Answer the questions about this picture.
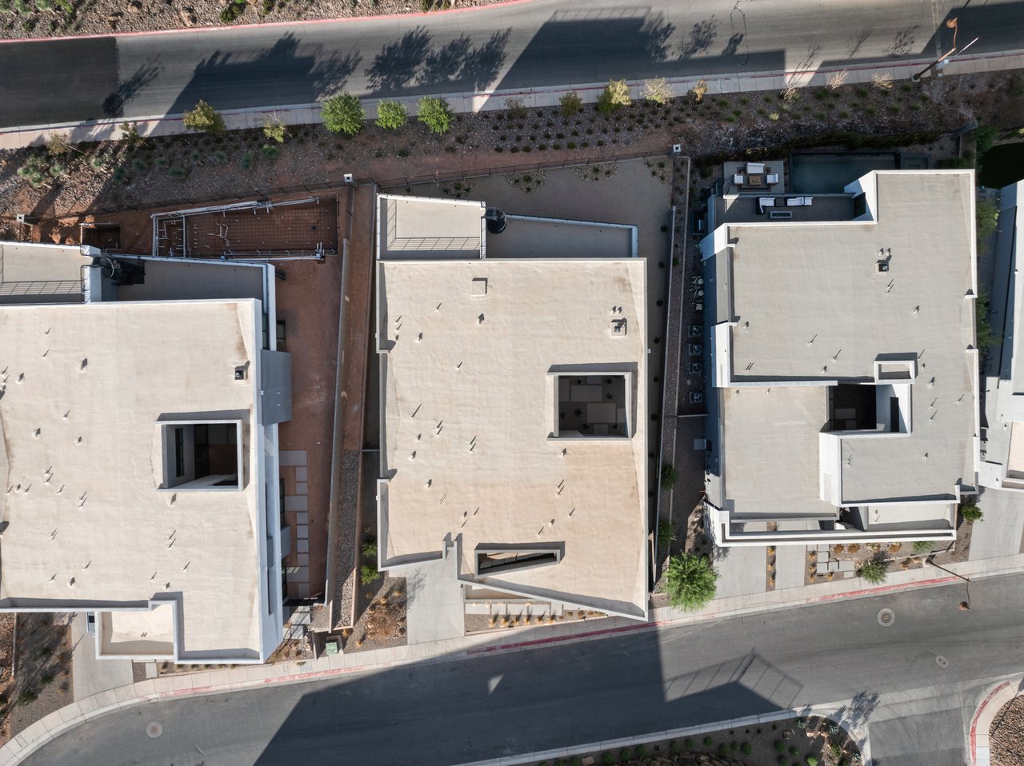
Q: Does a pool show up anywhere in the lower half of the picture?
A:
No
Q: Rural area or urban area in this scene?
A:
urban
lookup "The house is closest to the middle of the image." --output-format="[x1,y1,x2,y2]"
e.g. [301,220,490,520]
[375,193,650,646]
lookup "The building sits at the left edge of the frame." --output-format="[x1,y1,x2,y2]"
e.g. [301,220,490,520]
[0,241,325,665]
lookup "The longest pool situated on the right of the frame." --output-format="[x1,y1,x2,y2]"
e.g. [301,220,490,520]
[788,150,900,193]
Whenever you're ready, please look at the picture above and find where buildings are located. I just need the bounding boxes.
[0,241,325,665]
[375,193,650,646]
[694,169,978,547]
